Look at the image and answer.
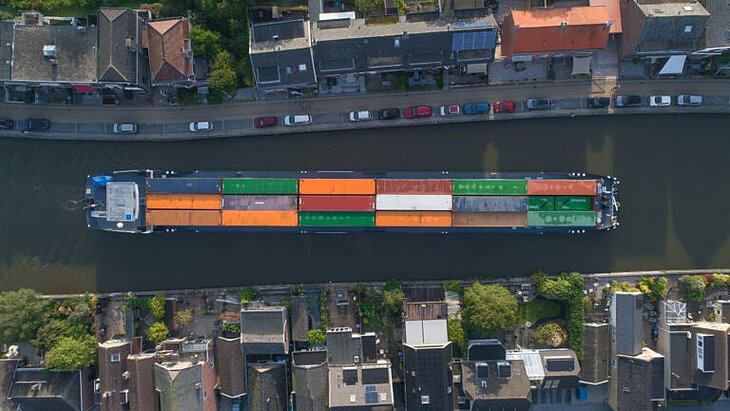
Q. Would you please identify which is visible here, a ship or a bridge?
ship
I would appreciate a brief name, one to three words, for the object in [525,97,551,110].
vehicle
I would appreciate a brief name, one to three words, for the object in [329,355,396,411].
house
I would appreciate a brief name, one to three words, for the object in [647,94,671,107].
vehicle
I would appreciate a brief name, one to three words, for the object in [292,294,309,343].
shed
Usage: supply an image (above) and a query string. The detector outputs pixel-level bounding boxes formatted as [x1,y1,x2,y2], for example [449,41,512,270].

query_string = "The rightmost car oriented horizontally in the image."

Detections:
[674,93,703,106]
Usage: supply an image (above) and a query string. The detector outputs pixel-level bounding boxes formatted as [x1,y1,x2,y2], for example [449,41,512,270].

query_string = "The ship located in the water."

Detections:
[73,169,620,234]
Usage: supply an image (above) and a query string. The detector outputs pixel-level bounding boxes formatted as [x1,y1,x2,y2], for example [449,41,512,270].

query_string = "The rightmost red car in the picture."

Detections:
[493,100,516,113]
